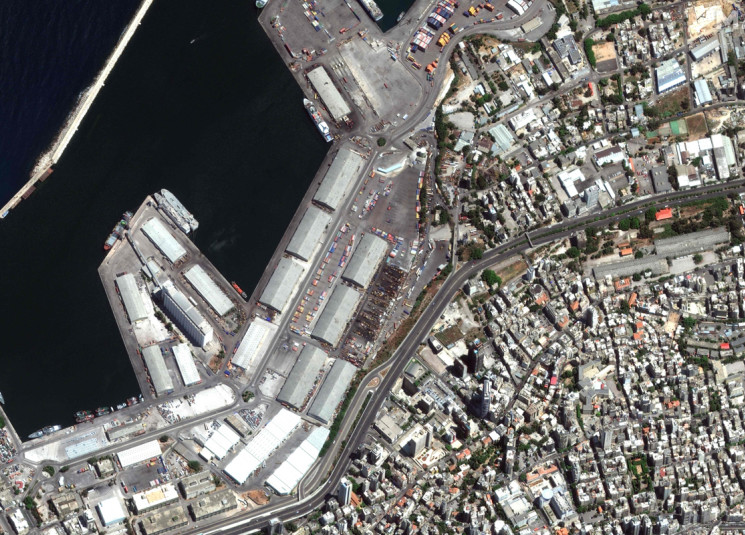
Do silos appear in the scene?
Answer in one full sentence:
Yes, you can see a silo in this photo.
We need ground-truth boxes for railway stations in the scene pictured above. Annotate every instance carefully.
[590,227,729,277]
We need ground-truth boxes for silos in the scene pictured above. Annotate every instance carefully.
[162,280,213,347]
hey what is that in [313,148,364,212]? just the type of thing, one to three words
building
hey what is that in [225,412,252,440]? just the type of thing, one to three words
shed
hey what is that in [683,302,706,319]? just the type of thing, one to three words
building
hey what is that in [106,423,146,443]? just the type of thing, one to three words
shed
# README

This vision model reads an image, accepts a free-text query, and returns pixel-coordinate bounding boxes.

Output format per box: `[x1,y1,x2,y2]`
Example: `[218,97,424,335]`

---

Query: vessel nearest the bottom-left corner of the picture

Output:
[28,424,63,440]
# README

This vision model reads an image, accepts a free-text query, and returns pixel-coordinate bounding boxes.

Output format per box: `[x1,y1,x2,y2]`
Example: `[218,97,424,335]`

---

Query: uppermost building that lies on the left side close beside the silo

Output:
[141,218,186,264]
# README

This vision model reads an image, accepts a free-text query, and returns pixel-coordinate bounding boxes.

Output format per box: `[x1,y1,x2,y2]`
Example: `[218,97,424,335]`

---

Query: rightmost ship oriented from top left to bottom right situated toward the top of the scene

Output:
[360,0,385,23]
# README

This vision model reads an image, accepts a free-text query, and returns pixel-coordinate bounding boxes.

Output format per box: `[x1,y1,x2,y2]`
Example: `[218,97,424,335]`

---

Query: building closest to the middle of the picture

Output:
[342,232,389,290]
